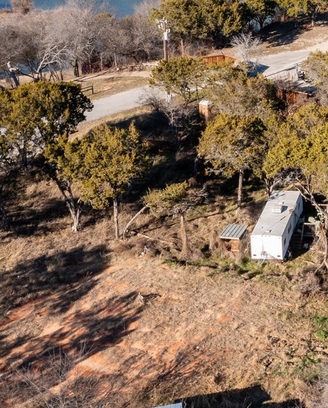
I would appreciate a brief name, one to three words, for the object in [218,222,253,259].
shed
